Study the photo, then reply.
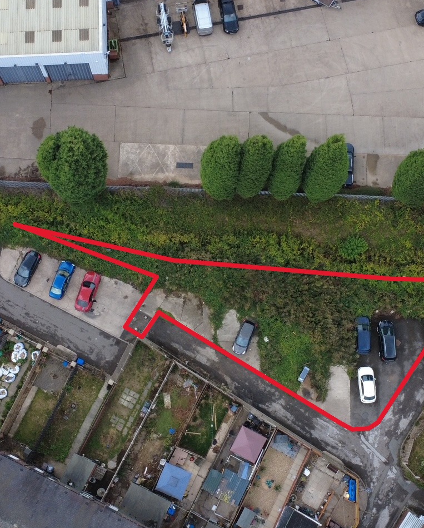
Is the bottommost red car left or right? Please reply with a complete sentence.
The bottommost red car appears in the left half of the scene.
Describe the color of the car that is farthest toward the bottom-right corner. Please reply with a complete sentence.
The car that is farthest toward the bottom-right corner looks white in the image.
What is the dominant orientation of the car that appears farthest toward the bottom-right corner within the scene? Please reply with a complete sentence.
Seen from above, the car that appears farthest toward the bottom-right corner lies up and down.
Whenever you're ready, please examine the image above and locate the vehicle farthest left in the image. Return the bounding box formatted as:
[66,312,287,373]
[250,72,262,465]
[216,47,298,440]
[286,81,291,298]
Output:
[13,248,40,287]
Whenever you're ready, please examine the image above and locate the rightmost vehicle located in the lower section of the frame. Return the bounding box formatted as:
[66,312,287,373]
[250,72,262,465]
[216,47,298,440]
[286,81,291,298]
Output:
[376,319,398,362]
